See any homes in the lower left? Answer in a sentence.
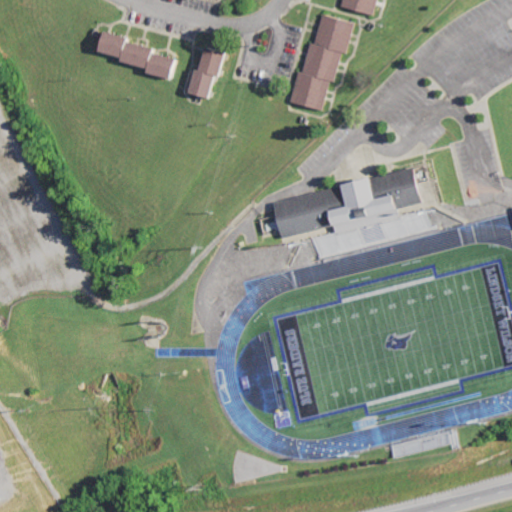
No, looking in the lower left, there is no home.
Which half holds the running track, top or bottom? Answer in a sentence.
The bottom half of the photo is where the running track is.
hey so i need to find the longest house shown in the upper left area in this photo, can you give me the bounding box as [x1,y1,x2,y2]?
[97,32,177,80]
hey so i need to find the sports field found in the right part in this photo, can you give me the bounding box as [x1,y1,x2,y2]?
[272,258,512,424]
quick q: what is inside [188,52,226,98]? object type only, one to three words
house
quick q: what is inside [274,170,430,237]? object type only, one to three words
building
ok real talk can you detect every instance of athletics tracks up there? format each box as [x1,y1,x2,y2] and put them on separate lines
[216,222,512,460]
